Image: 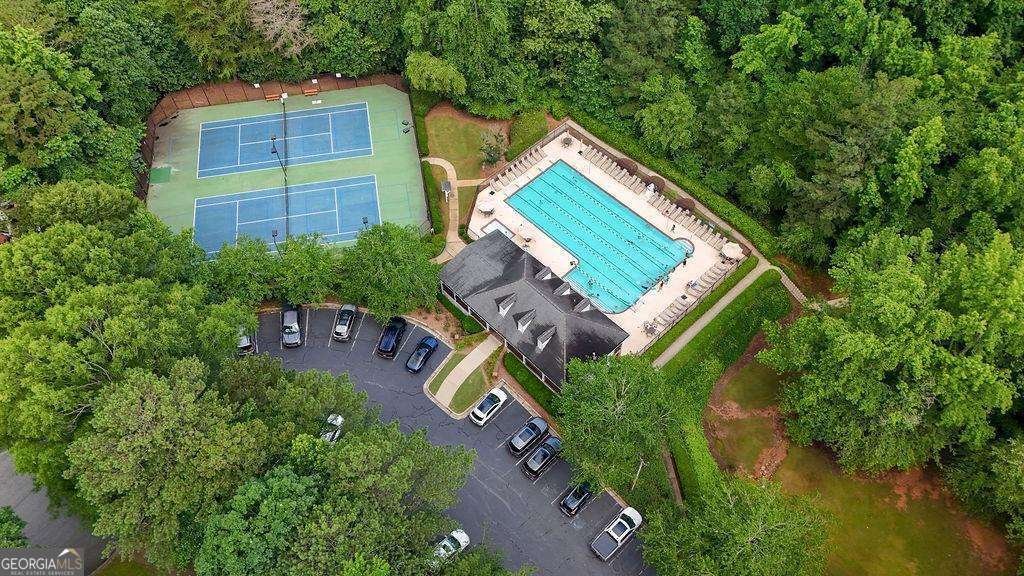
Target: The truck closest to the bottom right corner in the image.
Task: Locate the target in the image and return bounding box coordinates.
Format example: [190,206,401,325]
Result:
[588,504,646,565]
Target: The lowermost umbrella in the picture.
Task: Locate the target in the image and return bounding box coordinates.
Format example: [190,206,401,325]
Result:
[720,242,746,263]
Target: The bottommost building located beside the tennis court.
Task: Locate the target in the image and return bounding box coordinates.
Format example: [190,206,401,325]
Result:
[439,233,629,398]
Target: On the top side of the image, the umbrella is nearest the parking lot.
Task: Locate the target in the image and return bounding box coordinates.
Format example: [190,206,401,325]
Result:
[474,196,498,217]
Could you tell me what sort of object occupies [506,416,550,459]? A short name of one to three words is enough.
car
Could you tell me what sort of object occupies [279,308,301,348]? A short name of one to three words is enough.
car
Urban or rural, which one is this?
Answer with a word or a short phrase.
rural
